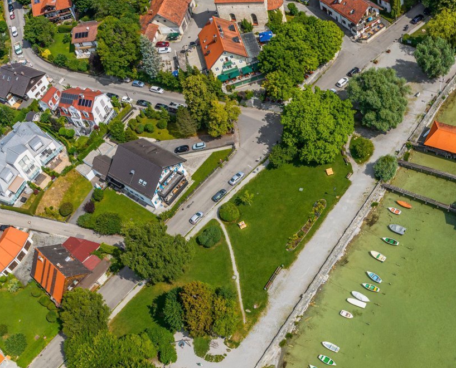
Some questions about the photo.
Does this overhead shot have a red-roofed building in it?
Yes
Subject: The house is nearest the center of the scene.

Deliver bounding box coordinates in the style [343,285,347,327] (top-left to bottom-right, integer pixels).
[106,138,196,206]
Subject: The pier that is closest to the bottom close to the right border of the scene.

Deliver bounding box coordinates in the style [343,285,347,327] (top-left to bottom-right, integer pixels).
[381,183,456,215]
